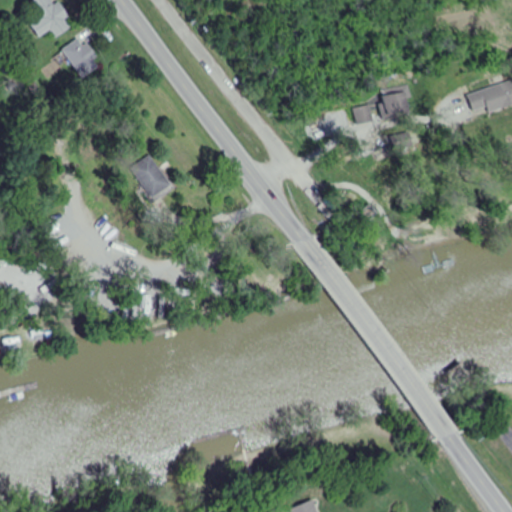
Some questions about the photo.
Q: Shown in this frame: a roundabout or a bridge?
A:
bridge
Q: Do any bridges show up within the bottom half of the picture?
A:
Yes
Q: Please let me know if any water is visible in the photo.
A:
Yes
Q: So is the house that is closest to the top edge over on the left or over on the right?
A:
left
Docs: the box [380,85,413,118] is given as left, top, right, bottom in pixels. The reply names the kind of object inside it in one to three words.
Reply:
house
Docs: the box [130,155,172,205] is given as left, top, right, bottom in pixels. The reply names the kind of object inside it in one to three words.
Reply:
house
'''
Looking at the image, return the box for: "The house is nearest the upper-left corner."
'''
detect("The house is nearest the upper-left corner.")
[29,0,73,40]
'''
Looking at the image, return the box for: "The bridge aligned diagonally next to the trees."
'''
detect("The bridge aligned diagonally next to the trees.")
[288,229,454,444]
